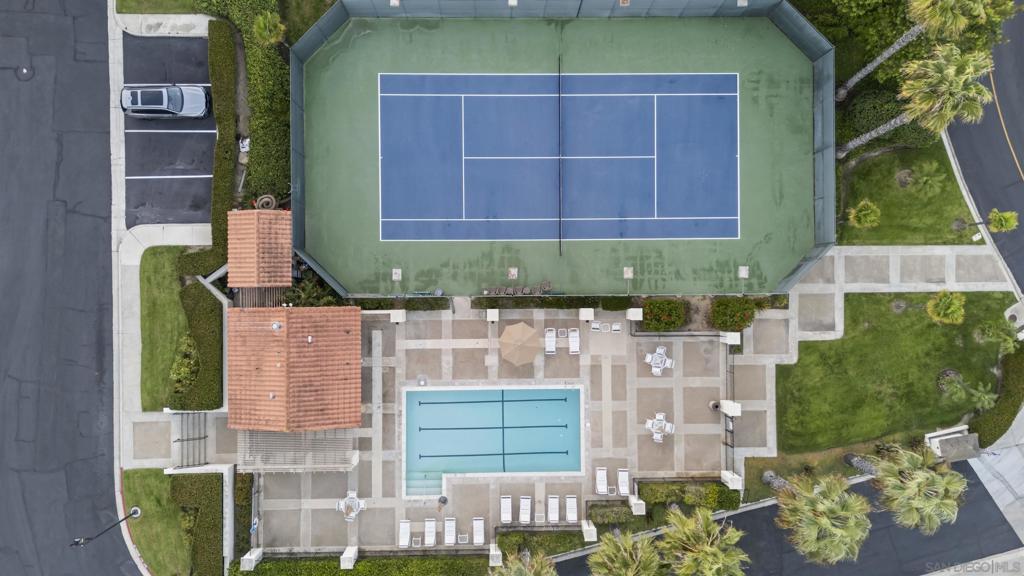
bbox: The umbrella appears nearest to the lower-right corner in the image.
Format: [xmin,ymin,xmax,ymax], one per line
[500,324,539,362]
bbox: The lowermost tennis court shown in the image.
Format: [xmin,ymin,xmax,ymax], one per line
[305,16,814,295]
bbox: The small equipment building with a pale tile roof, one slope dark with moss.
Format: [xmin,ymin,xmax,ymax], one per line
[227,208,302,289]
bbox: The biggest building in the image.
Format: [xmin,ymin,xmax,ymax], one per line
[227,303,365,436]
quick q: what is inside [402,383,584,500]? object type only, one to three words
swimming pool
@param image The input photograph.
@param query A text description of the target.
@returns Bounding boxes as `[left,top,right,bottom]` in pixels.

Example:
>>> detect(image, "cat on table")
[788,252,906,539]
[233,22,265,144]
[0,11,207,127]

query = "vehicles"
[121,83,214,120]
